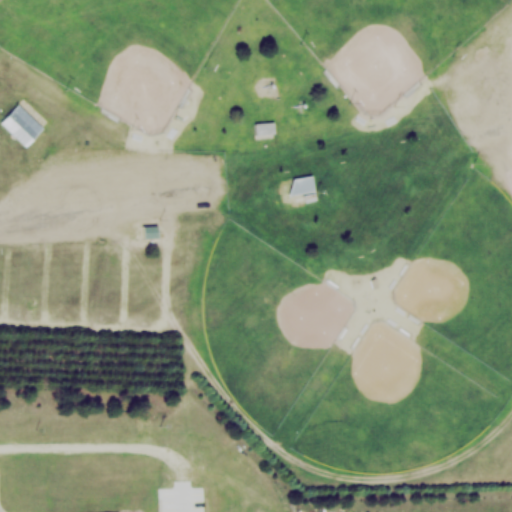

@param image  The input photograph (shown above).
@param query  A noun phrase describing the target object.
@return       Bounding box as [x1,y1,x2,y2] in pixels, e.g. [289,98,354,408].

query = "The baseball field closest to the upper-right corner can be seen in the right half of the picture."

[268,0,512,112]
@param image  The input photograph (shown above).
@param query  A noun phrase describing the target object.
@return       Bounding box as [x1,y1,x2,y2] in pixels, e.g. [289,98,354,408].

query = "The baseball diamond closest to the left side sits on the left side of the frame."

[0,0,242,134]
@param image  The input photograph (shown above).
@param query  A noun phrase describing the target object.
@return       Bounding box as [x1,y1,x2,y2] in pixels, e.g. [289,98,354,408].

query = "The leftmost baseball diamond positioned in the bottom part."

[204,216,356,440]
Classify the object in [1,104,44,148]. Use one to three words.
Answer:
barn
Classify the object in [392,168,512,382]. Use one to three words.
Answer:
baseball field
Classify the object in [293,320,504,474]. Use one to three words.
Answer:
baseball field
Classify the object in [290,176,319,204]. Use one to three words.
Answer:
building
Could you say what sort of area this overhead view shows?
sports ground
